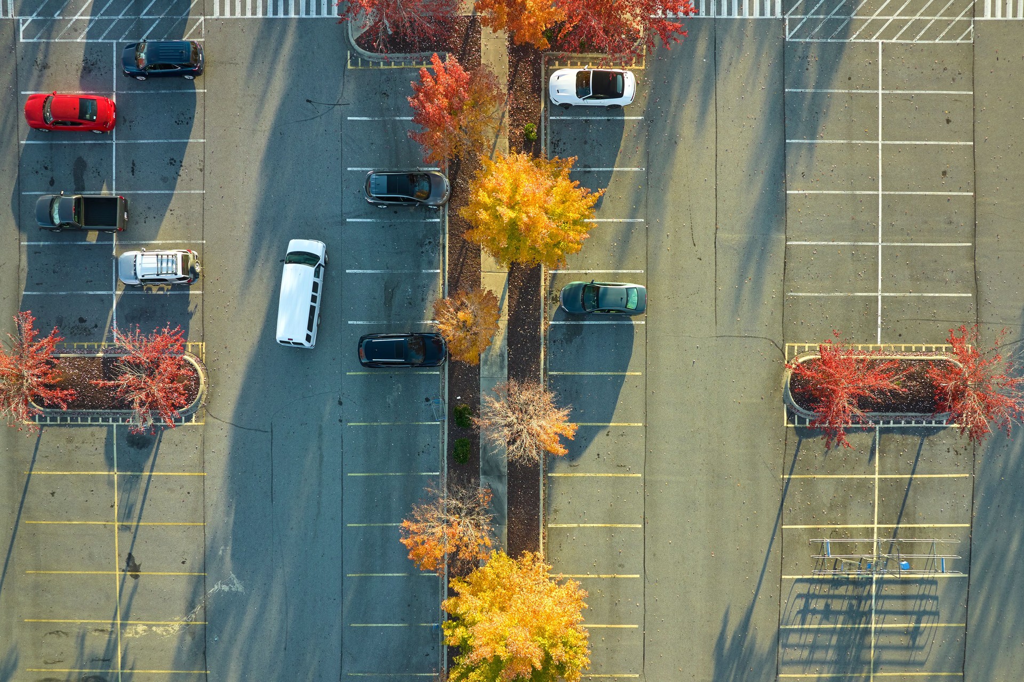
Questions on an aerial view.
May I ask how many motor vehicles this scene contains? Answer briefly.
nine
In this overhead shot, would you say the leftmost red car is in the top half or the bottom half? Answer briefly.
top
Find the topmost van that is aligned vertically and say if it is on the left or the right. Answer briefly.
left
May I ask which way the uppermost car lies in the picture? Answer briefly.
from left to right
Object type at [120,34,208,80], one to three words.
car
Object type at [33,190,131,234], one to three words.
truck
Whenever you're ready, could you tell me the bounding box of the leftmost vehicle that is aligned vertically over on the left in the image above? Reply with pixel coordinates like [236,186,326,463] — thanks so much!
[276,239,331,351]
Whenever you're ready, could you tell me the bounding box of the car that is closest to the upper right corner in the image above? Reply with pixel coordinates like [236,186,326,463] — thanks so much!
[545,63,636,109]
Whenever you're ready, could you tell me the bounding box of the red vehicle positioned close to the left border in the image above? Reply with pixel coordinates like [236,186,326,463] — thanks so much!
[23,87,118,133]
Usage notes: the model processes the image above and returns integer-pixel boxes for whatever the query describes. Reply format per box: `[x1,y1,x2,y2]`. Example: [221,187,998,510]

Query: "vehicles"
[359,328,452,372]
[23,87,118,133]
[276,239,331,351]
[545,63,636,109]
[120,34,208,80]
[364,165,453,209]
[33,190,131,234]
[116,245,205,288]
[556,277,646,319]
